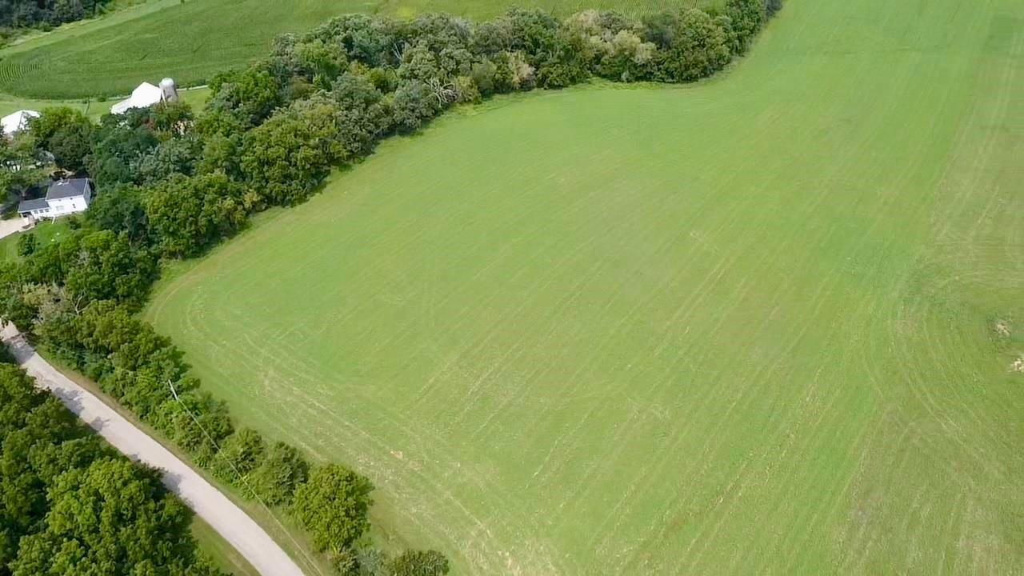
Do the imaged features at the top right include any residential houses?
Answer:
No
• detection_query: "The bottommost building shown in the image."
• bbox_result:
[16,181,89,222]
